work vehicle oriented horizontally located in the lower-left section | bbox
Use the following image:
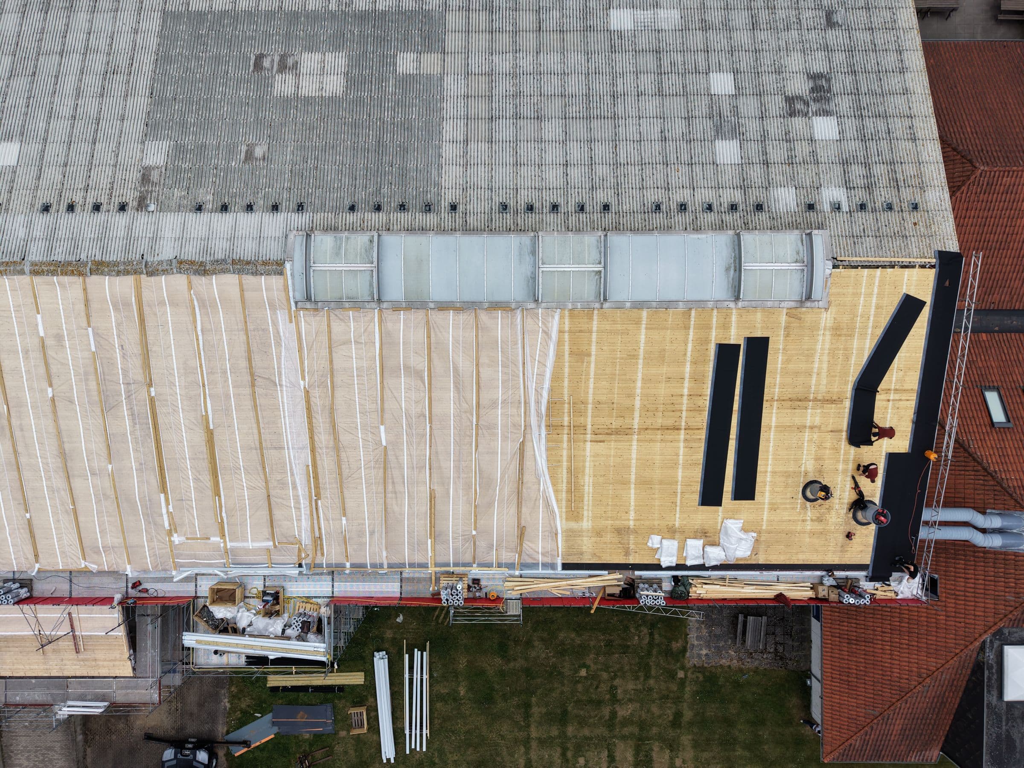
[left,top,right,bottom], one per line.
[140,730,254,768]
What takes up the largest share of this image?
buildings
